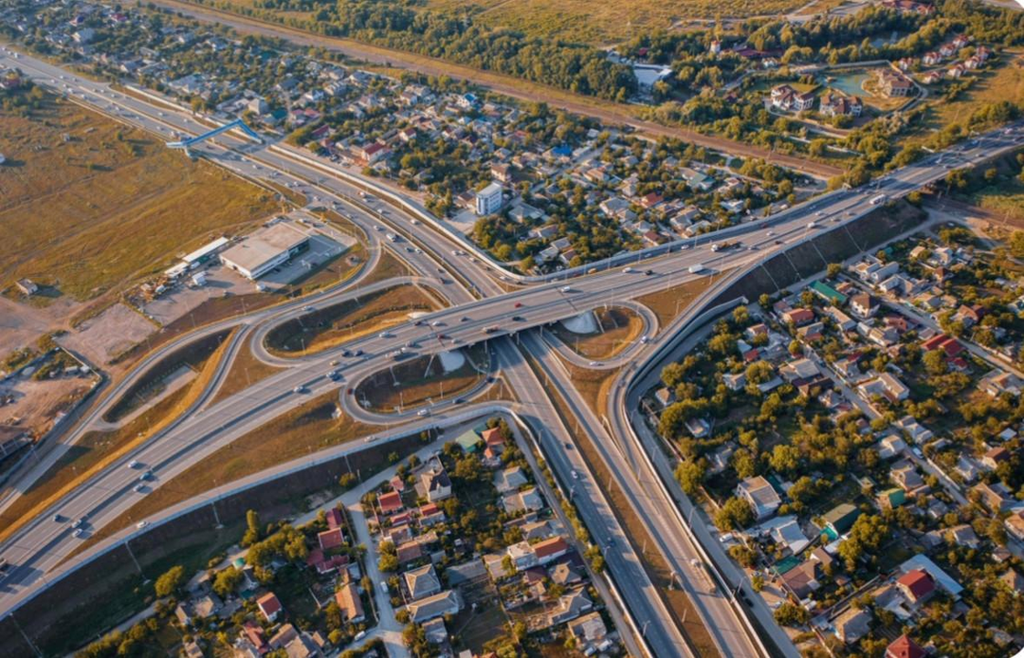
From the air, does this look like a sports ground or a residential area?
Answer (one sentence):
The picture captures a residential area.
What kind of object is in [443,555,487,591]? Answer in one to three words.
house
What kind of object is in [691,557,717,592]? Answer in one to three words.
truck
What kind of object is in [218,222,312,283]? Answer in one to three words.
building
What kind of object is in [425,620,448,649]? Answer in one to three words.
shed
